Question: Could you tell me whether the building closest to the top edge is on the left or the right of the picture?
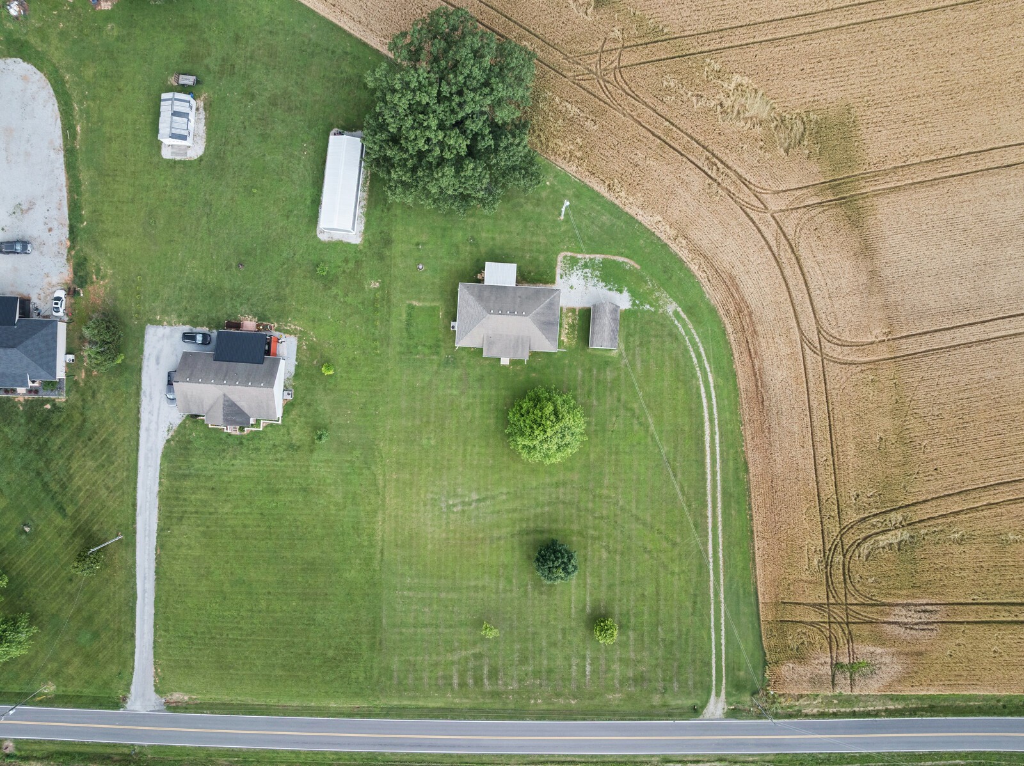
left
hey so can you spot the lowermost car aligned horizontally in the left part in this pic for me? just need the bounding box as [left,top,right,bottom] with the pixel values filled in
[180,331,210,345]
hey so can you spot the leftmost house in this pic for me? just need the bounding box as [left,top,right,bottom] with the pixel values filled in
[0,295,75,394]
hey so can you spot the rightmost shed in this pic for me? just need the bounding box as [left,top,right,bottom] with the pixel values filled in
[589,301,620,349]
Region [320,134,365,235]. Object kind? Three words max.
barn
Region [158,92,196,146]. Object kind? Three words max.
building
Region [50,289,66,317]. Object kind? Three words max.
car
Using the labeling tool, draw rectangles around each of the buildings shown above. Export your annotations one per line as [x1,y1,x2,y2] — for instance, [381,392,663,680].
[158,92,196,146]
[320,134,365,235]
[455,262,566,364]
[0,295,75,394]
[589,301,620,349]
[173,330,285,433]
